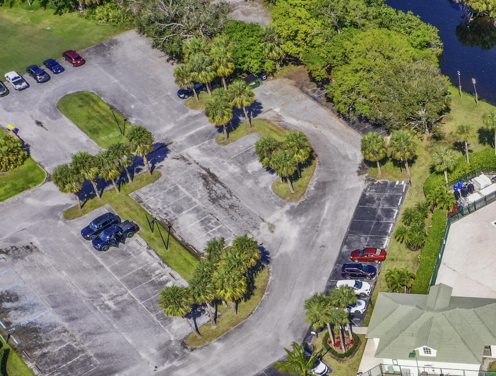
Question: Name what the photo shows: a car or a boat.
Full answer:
Looking from above, you can make out a car.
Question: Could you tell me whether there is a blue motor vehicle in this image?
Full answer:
Yes, the image includes a blue motor vehicle.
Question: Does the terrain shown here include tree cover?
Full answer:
Yes, tree cover shows up in the scene.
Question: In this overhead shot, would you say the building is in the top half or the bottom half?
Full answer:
It is in the bottom half that the building appears.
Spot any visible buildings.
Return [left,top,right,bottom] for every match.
[365,281,496,376]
